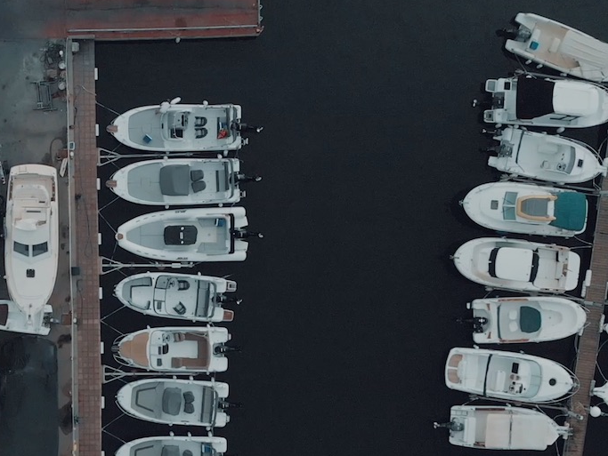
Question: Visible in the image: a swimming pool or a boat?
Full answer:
I can see a boat in this picture.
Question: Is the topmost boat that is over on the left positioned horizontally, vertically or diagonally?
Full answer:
The topmost boat that is over on the left runs horizontally in the image.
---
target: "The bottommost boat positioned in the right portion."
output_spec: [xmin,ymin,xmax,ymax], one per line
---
[434,404,574,452]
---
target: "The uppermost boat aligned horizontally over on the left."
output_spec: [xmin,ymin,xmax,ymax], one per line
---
[107,96,261,154]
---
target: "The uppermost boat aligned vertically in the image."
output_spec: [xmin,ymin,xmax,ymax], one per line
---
[5,164,59,327]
